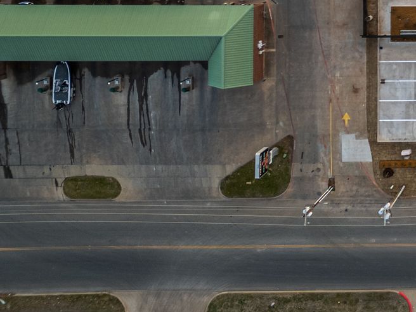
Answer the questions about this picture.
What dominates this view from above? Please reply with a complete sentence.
For the most part, this view shows paved ground.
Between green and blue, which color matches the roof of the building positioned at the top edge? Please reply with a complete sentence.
The roof of the building positioned at the top edge is green.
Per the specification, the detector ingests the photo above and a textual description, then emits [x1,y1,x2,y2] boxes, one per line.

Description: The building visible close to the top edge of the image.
[0,5,265,88]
